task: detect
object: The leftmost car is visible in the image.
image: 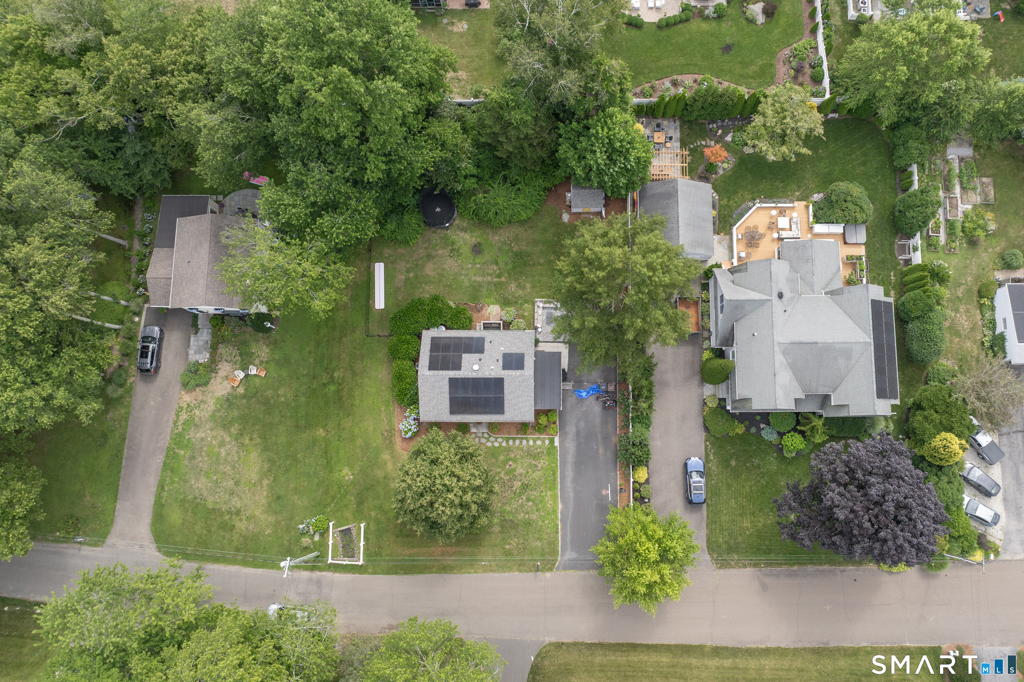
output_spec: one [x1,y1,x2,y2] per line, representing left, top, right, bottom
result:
[135,326,163,374]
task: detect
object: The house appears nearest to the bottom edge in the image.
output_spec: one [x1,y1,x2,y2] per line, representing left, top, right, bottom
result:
[419,330,562,423]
